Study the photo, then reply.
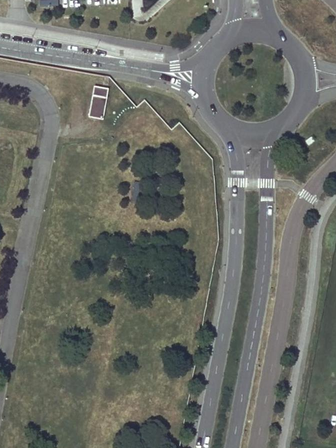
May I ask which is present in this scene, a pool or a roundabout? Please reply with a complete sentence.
Of the two, only a roundabout appears.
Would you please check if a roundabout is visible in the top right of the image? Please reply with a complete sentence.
Yes, a roundabout appears in the top right of the image.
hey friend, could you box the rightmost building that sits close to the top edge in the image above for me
[132,0,167,21]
